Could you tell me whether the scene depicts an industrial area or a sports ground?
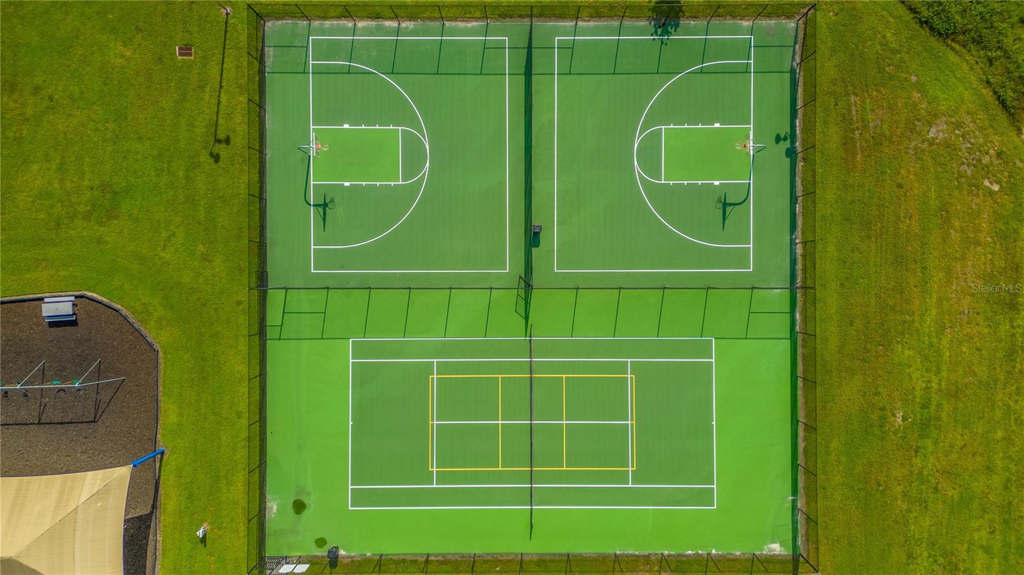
sports ground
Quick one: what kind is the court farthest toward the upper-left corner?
basketball court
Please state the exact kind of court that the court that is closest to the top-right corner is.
basketball court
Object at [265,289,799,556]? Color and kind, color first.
green tennis court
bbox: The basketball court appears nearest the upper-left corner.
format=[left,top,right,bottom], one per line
[265,21,531,288]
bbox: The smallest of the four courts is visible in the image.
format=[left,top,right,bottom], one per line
[429,375,635,470]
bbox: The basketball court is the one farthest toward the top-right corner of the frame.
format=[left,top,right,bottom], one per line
[532,21,798,288]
